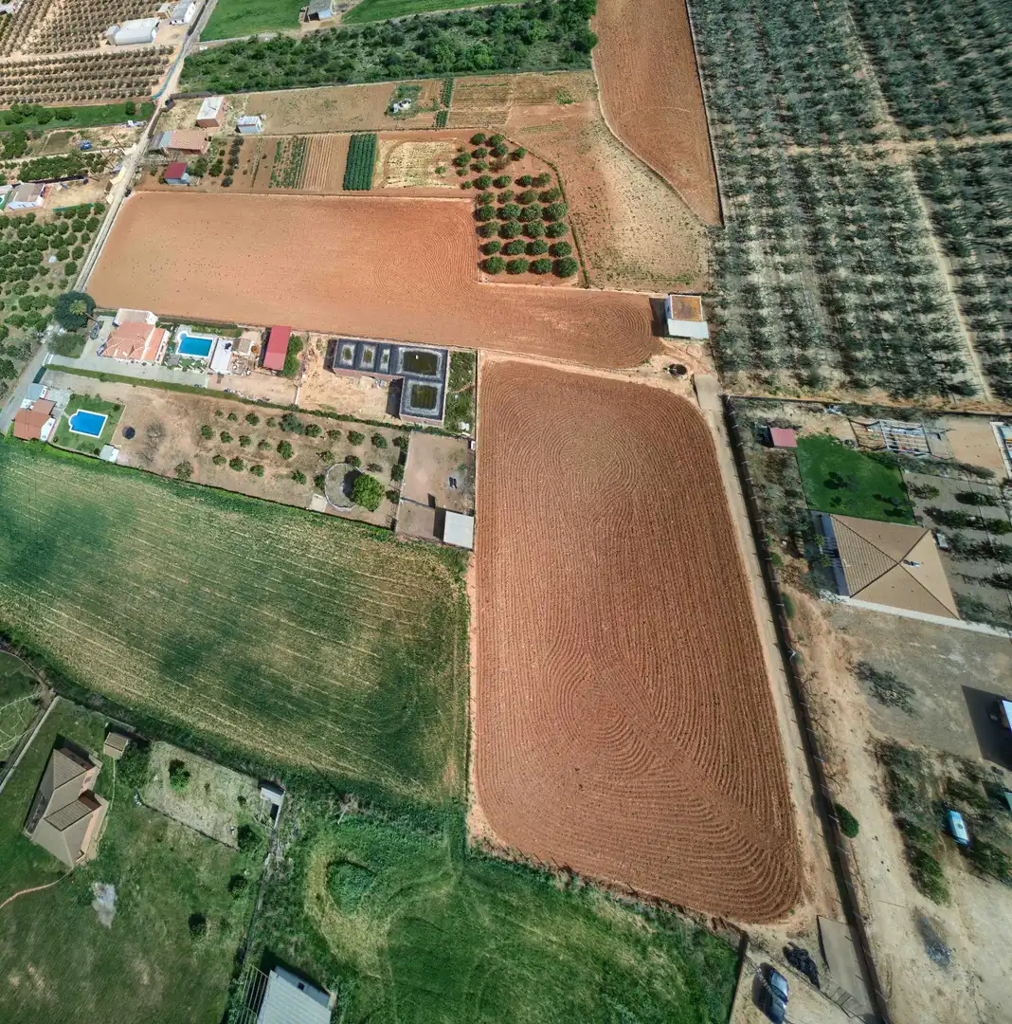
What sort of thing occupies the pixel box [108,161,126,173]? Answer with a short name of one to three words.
vehicle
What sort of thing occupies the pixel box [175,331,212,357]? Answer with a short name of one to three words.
swimming pool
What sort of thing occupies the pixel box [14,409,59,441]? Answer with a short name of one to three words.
house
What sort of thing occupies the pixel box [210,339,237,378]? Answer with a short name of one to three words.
building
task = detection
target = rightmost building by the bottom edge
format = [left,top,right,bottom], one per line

[255,957,337,1024]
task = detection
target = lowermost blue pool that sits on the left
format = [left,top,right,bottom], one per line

[66,409,105,437]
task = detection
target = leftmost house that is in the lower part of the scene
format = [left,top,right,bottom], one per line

[32,749,108,869]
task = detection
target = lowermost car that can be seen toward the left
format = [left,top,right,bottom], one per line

[86,324,103,341]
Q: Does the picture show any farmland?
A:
Yes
